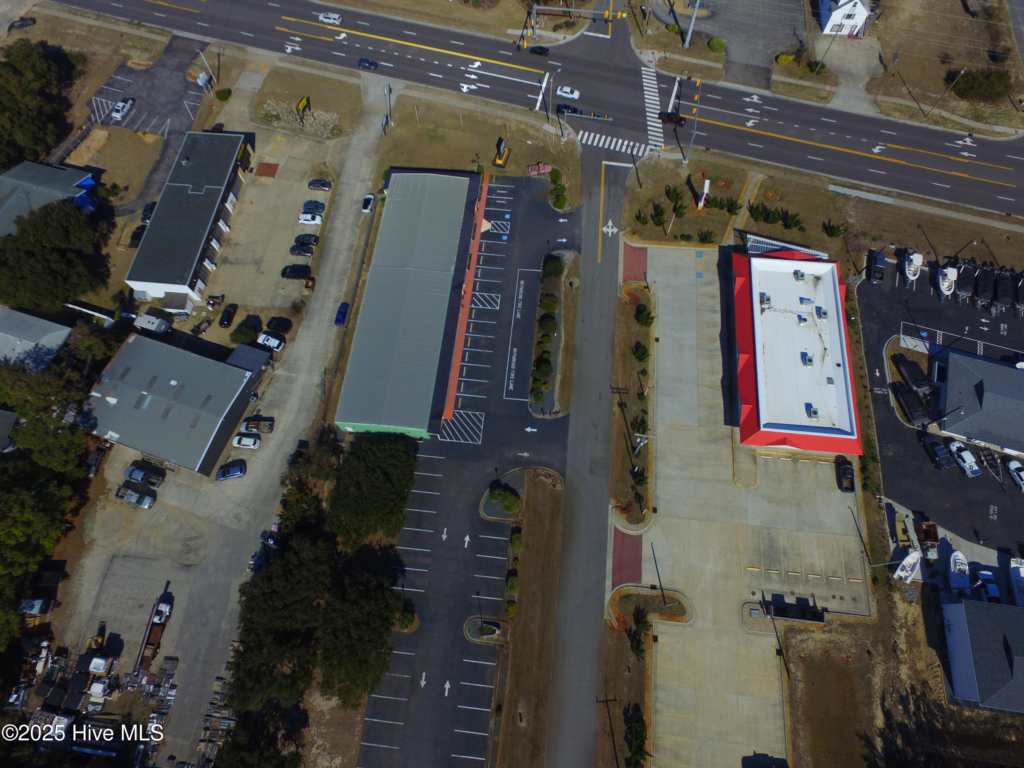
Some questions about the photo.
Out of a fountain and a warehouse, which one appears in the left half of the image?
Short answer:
warehouse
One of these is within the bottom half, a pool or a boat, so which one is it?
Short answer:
boat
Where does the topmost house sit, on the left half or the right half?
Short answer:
right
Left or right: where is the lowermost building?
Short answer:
right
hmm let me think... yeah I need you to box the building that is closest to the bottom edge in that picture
[945,600,1024,712]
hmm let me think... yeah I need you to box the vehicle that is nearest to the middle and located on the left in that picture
[334,301,352,326]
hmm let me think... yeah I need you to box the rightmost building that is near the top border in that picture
[817,0,873,40]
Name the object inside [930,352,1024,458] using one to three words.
building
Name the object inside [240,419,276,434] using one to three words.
vehicle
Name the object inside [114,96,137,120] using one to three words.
truck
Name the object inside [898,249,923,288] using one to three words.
boat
